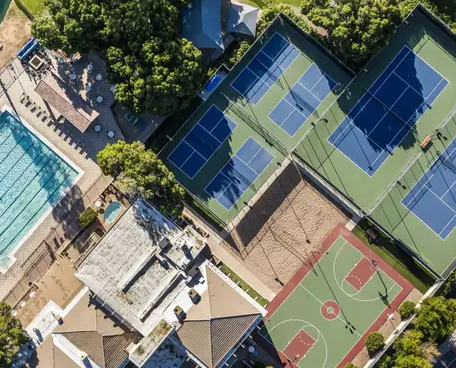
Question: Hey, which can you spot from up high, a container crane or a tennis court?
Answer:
tennis court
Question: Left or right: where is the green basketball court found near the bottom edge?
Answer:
right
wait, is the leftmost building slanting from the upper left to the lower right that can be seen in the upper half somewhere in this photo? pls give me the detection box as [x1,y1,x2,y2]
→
[35,72,100,133]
